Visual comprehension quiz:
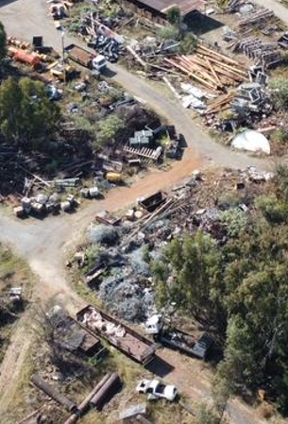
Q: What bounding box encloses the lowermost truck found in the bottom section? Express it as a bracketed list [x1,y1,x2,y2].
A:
[136,376,179,399]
